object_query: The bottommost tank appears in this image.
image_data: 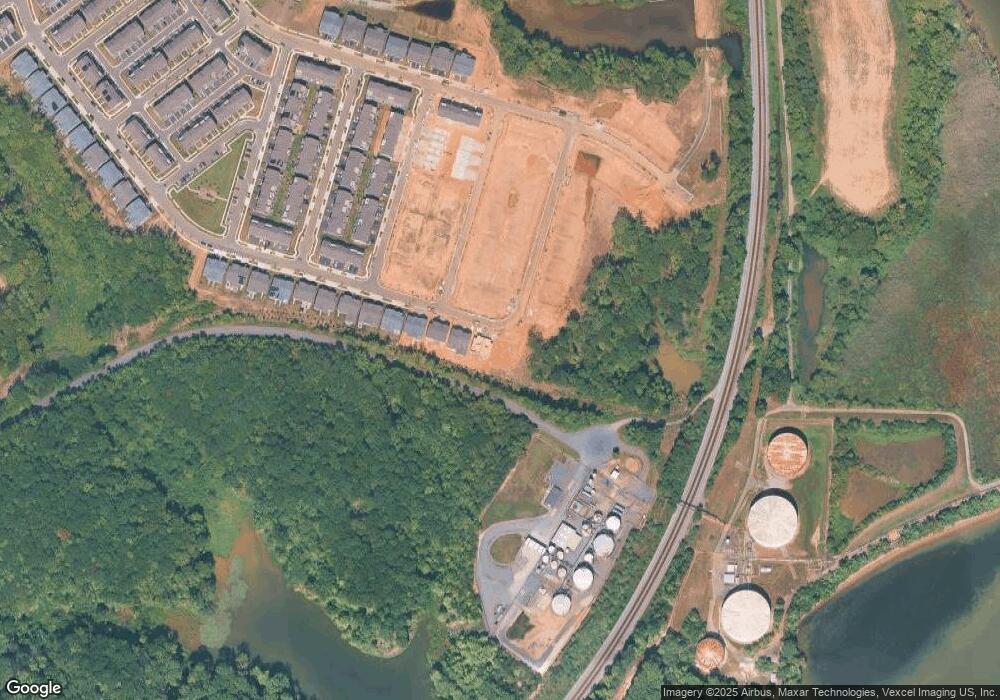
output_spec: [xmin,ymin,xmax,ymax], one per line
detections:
[695,639,726,672]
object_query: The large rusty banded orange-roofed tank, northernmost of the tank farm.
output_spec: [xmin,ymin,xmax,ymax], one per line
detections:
[767,435,809,476]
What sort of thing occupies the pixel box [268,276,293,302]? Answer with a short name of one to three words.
house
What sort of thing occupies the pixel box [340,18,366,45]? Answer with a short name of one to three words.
house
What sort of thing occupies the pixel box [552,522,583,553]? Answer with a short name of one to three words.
building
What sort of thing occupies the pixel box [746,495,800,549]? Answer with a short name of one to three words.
storage tank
